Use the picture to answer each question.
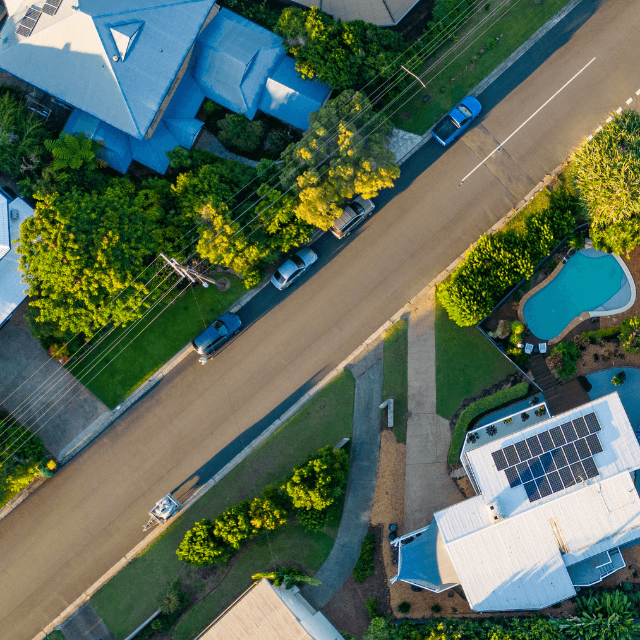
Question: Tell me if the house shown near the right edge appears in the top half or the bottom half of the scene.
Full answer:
The house shown near the right edge is in the bottom half of the image.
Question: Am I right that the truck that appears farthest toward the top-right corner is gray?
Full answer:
No, the truck that appears farthest toward the top-right corner is actually blue.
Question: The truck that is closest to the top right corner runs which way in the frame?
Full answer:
Seen from above, the truck that is closest to the top right corner lies on a diagonal.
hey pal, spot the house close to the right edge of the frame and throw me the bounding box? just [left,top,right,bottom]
[392,390,640,613]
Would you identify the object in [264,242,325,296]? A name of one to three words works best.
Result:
car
